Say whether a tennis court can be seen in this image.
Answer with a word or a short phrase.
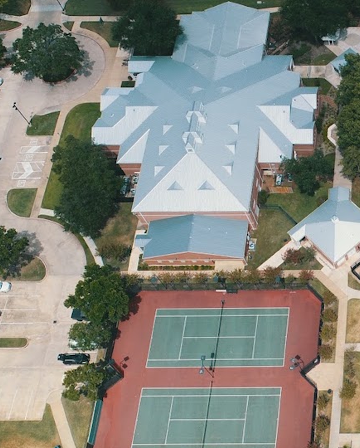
Yes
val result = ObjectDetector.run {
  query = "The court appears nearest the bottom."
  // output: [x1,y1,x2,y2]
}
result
[90,377,315,448]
